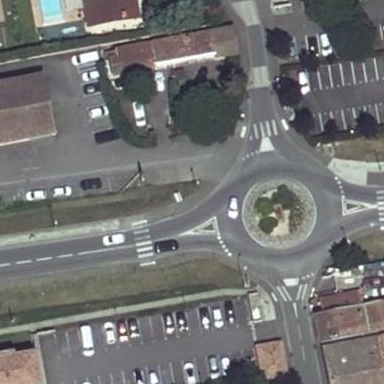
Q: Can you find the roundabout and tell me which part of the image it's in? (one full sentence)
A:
The roundabout appears toward the right of the photo.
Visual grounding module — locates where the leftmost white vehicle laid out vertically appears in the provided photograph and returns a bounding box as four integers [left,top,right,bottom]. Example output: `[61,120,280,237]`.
[80,325,95,356]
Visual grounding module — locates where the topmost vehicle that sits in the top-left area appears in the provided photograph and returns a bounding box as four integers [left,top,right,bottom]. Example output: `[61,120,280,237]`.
[70,51,100,66]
